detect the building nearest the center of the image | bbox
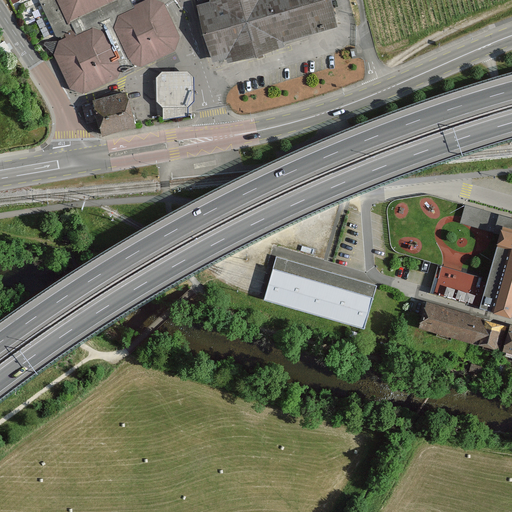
[264,257,376,329]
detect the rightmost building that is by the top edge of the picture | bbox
[196,0,337,62]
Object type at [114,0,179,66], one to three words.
house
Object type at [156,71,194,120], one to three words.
building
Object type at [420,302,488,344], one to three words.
house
